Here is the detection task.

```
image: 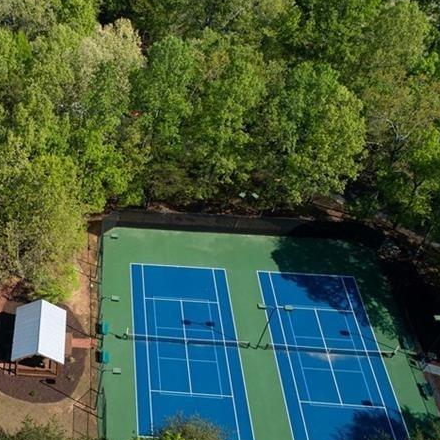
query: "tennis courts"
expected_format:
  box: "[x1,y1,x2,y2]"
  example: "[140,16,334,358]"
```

[101,229,273,440]
[234,234,440,440]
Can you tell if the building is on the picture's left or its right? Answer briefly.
left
